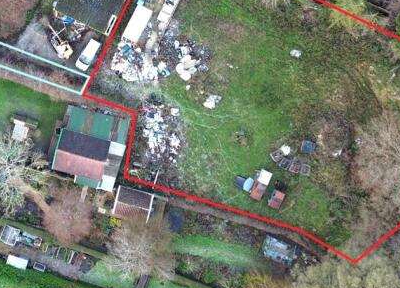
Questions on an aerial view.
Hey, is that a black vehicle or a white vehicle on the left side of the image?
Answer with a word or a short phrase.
white vehicle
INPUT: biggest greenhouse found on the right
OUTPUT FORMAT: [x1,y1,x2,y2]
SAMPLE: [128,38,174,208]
[258,229,299,267]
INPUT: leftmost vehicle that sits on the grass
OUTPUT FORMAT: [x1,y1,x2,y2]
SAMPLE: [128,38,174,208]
[118,0,154,46]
